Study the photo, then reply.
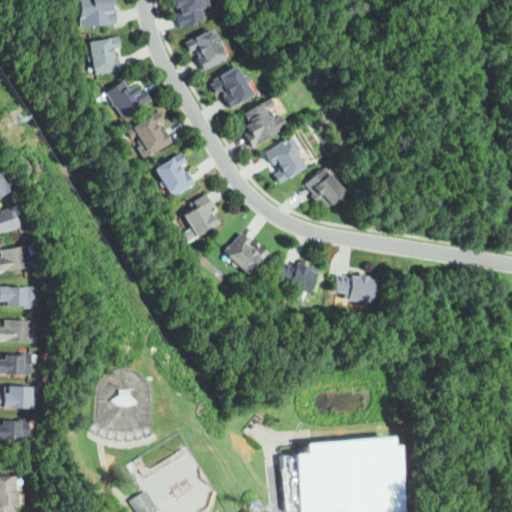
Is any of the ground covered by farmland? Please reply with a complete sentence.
No, the scene doesn't show any farmland.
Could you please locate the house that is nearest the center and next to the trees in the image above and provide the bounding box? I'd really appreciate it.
[226,234,270,274]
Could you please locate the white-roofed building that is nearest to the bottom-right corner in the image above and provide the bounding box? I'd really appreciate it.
[280,436,408,512]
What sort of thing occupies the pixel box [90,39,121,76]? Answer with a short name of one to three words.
house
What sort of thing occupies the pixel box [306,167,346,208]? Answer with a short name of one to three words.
house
